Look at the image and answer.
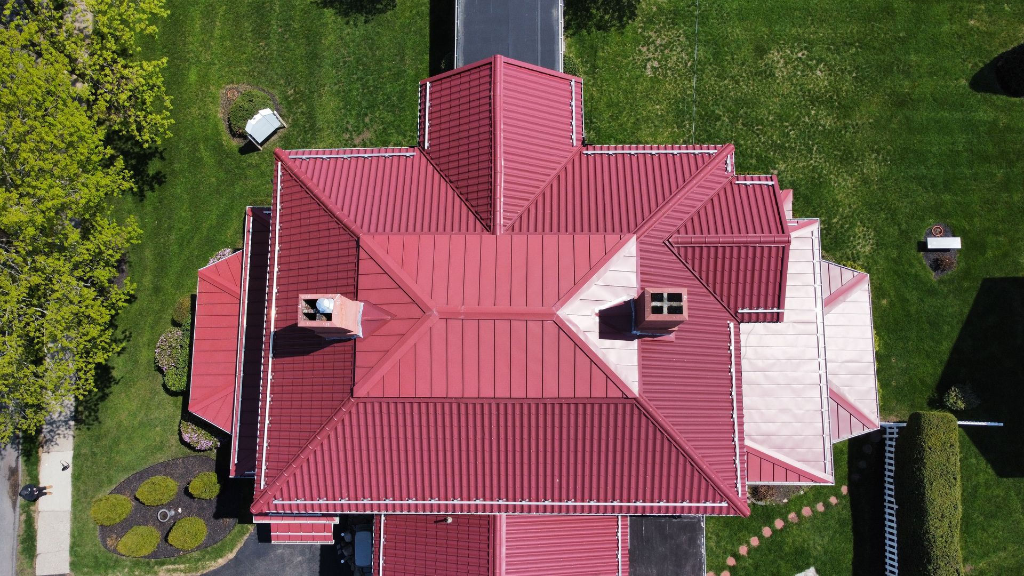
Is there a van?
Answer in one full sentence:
No, I can't see a single van in this photo.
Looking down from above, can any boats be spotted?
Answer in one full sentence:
No, the scene contains no boat.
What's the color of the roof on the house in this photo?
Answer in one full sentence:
The color of the roof on the house is red.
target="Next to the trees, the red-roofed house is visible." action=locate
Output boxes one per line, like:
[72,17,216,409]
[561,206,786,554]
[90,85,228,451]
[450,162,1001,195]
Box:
[186,0,880,576]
